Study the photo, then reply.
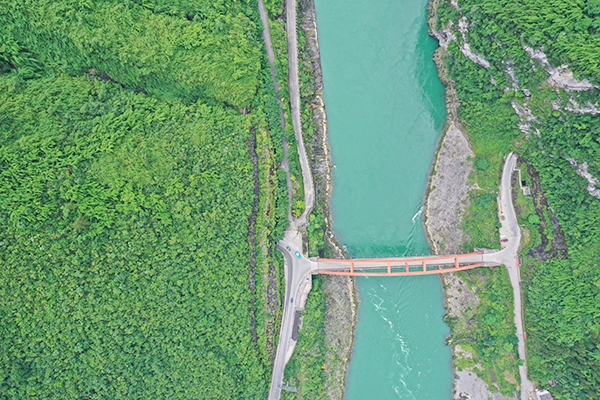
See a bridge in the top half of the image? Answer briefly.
No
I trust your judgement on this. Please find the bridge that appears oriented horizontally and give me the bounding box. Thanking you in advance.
[307,249,496,277]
